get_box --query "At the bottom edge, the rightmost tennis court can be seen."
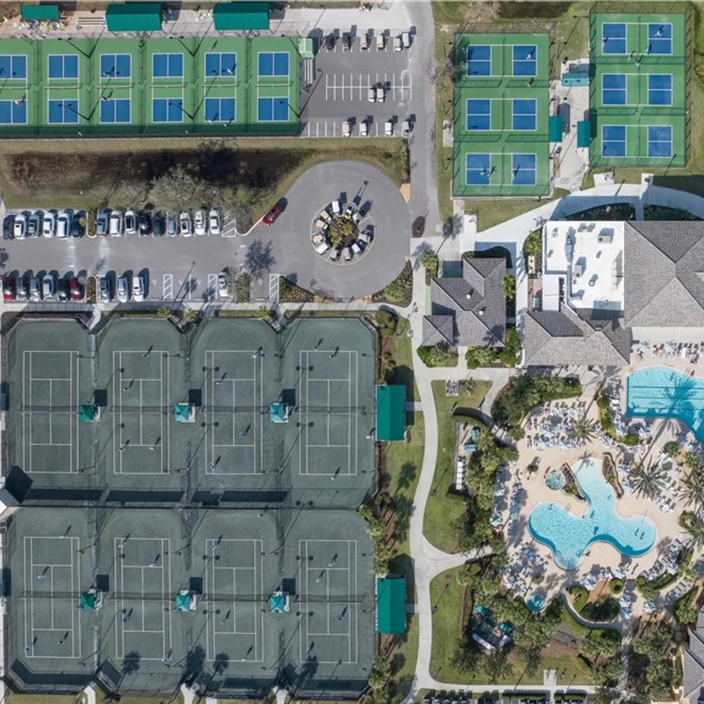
[279,507,375,697]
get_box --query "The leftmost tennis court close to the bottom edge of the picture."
[6,507,95,692]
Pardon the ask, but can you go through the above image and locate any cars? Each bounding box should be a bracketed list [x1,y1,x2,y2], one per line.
[56,277,70,302]
[165,214,178,238]
[138,211,152,237]
[25,210,41,240]
[96,211,111,237]
[117,276,130,301]
[152,211,166,237]
[196,210,206,235]
[131,276,145,301]
[70,276,84,301]
[29,276,42,301]
[209,209,221,234]
[124,209,137,235]
[72,212,86,238]
[43,212,56,237]
[97,277,111,301]
[262,203,285,225]
[16,276,30,301]
[110,208,124,238]
[40,274,55,298]
[1,276,15,301]
[1,215,15,240]
[56,212,71,237]
[13,214,27,239]
[180,211,191,236]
